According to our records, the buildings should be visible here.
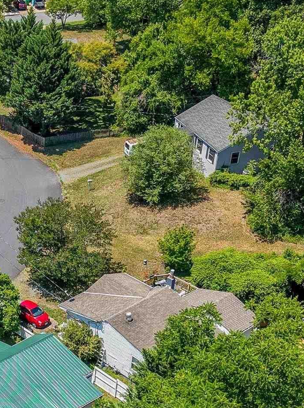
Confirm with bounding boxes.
[0,332,102,408]
[59,262,255,385]
[175,93,275,171]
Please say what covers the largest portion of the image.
trees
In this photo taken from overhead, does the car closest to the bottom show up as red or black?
red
